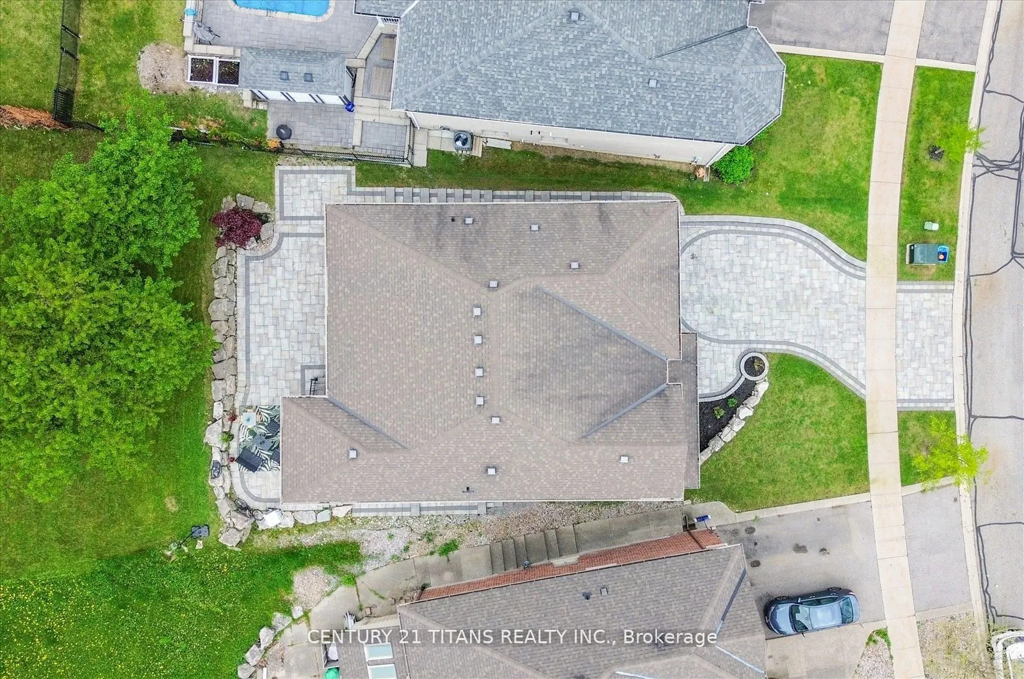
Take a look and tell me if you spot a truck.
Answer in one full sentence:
No, the picture doesn't show any truck.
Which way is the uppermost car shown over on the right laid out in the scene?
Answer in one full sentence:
From this overhead view, the uppermost car shown over on the right appears to run horizontally.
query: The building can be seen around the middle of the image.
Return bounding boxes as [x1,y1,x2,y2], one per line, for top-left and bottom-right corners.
[279,199,703,506]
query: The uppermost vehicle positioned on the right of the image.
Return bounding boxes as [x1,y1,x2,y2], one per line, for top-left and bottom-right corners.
[762,585,859,639]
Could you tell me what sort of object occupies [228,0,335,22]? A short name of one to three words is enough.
swimming pool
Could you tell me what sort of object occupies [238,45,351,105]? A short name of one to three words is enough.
shed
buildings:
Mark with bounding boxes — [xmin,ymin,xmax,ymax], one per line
[238,45,351,105]
[352,0,789,171]
[279,199,703,506]
[338,515,769,679]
